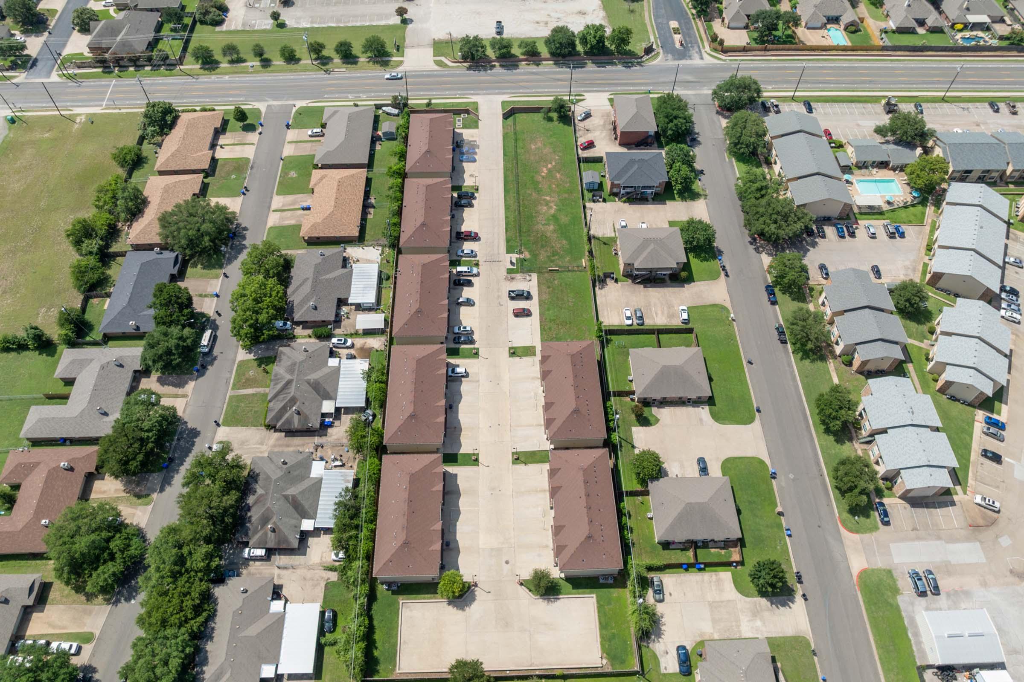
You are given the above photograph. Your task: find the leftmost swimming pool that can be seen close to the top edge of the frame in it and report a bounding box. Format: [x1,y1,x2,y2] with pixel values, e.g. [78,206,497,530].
[826,26,848,45]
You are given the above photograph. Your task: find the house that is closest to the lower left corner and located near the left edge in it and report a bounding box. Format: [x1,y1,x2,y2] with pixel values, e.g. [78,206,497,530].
[0,572,48,668]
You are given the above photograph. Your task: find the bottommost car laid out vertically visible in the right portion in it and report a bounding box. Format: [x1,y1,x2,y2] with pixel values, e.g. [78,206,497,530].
[676,646,691,676]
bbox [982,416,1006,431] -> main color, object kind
blue car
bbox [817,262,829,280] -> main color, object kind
gray vehicle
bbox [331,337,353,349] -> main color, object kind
white vehicle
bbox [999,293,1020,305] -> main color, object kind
gray vehicle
